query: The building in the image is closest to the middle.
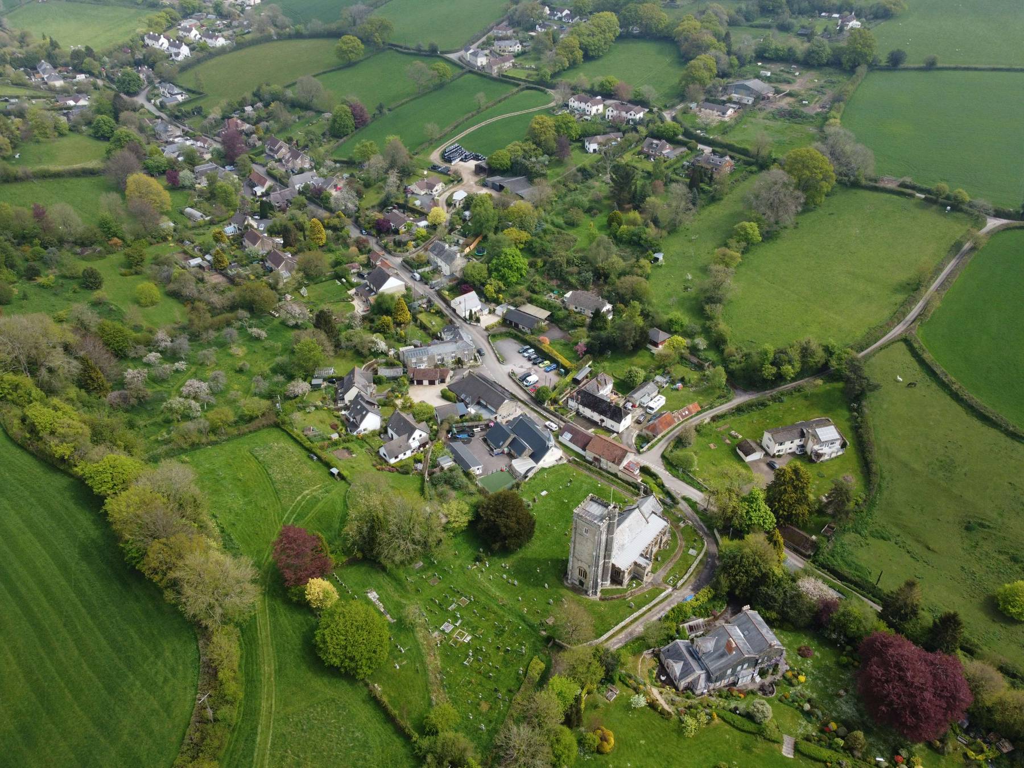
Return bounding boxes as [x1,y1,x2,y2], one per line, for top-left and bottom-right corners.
[457,372,522,429]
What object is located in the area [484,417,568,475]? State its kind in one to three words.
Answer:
building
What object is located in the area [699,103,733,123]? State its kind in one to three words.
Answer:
house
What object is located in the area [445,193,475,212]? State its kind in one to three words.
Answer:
shed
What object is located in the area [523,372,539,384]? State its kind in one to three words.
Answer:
vehicle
